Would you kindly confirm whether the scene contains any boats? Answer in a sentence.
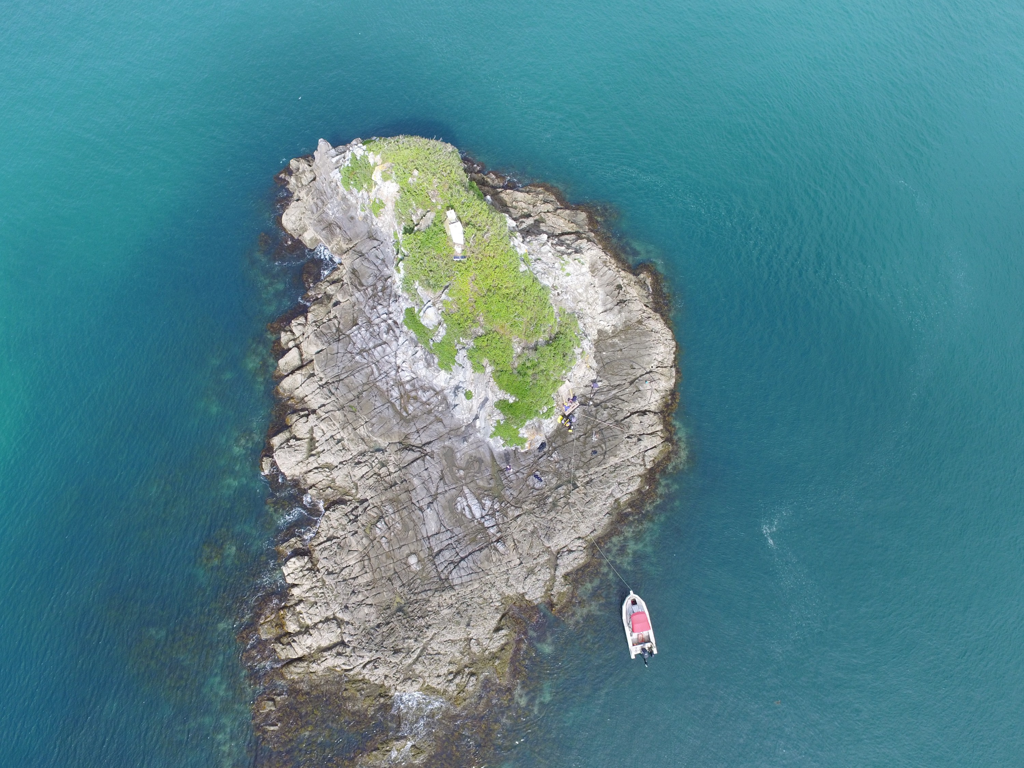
Yes, there's a boat here.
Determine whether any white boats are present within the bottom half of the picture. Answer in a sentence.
Yes, a white boat can be seen within the bottom half of the picture.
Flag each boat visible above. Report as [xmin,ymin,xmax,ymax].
[622,590,657,667]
